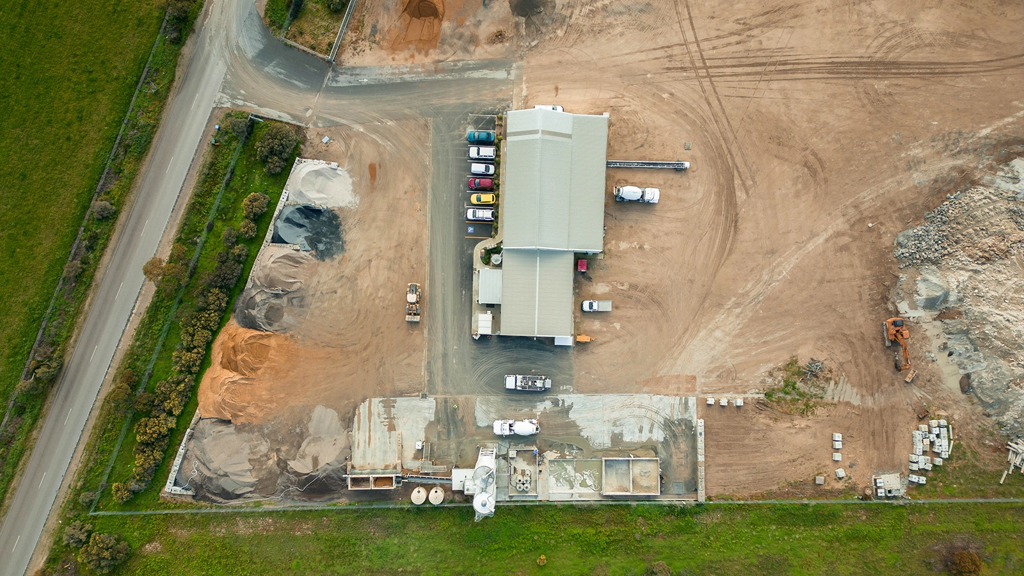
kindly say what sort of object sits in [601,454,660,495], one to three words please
storage tank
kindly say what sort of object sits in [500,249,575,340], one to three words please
shed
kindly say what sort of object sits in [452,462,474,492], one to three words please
building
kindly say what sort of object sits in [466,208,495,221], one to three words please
vehicle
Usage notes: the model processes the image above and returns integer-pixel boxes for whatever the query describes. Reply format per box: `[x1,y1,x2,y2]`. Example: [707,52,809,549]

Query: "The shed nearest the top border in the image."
[503,105,610,251]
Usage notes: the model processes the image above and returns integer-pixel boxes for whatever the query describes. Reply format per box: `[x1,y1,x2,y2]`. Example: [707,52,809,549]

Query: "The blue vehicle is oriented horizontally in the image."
[467,129,495,142]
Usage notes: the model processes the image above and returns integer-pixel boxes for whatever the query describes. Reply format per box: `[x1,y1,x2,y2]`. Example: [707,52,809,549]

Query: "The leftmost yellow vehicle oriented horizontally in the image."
[470,192,495,205]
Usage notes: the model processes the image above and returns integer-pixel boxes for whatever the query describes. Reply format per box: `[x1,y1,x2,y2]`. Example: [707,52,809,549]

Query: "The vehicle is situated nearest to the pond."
[495,420,542,440]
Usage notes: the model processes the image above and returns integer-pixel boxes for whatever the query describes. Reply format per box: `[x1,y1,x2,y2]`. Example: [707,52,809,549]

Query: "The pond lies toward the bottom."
[548,459,601,493]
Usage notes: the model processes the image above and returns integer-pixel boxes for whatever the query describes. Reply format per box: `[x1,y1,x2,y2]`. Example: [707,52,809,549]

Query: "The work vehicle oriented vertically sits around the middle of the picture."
[404,284,420,322]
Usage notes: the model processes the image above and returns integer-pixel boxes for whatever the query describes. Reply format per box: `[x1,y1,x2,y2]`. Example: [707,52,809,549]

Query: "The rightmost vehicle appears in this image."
[880,317,911,372]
